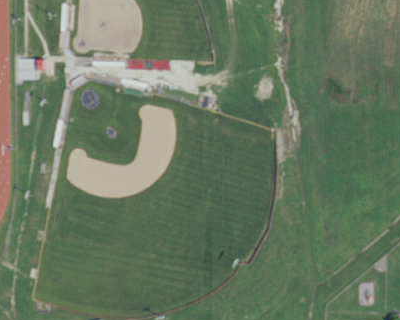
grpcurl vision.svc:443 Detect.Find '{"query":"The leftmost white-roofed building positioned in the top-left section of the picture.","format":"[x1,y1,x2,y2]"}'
[17,58,35,80]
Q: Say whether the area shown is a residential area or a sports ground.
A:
sports ground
